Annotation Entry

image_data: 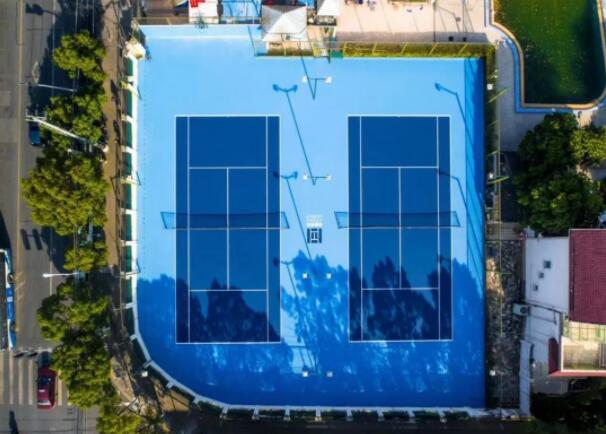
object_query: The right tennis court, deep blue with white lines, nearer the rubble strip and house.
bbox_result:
[348,115,453,342]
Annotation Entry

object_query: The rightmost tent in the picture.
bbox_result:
[320,0,344,28]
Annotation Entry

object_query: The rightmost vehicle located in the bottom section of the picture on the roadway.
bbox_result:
[35,367,60,411]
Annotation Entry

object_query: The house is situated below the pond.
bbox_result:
[522,229,606,374]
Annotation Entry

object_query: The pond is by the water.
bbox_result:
[485,0,606,112]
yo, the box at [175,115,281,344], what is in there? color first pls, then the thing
blue tennis court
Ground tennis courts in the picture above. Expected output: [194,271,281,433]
[175,115,281,344]
[348,115,453,342]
